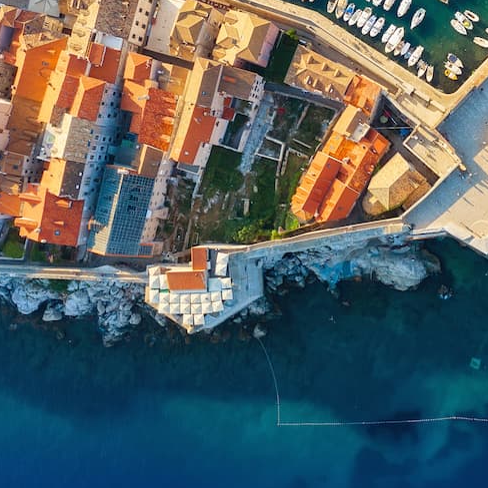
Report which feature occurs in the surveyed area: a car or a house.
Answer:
house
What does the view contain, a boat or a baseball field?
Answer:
boat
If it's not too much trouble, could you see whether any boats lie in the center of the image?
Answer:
No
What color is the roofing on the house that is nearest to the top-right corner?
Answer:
orange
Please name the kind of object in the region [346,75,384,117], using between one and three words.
house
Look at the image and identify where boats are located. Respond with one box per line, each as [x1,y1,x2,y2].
[447,51,462,66]
[472,34,488,46]
[345,2,354,20]
[336,0,347,17]
[328,0,337,13]
[444,61,461,72]
[427,63,433,82]
[364,14,376,33]
[395,39,404,55]
[385,23,396,42]
[358,6,372,27]
[465,9,479,20]
[410,43,424,66]
[454,9,472,28]
[450,19,468,33]
[413,6,426,28]
[386,24,404,52]
[402,41,411,55]
[398,0,412,16]
[419,58,427,77]
[372,16,385,36]
[350,8,361,24]
[444,68,457,77]
[405,48,413,60]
